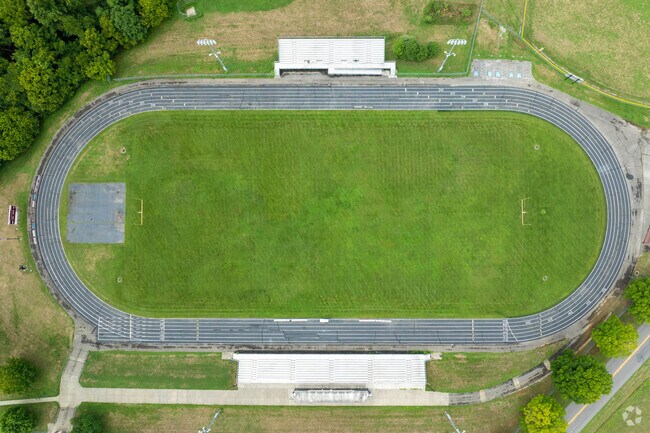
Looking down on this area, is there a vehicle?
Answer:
No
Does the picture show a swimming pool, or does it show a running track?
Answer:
running track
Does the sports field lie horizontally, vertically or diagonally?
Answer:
horizontally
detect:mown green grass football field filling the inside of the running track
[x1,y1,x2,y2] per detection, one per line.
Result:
[59,110,607,318]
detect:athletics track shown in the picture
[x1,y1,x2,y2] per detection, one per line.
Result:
[34,86,632,345]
